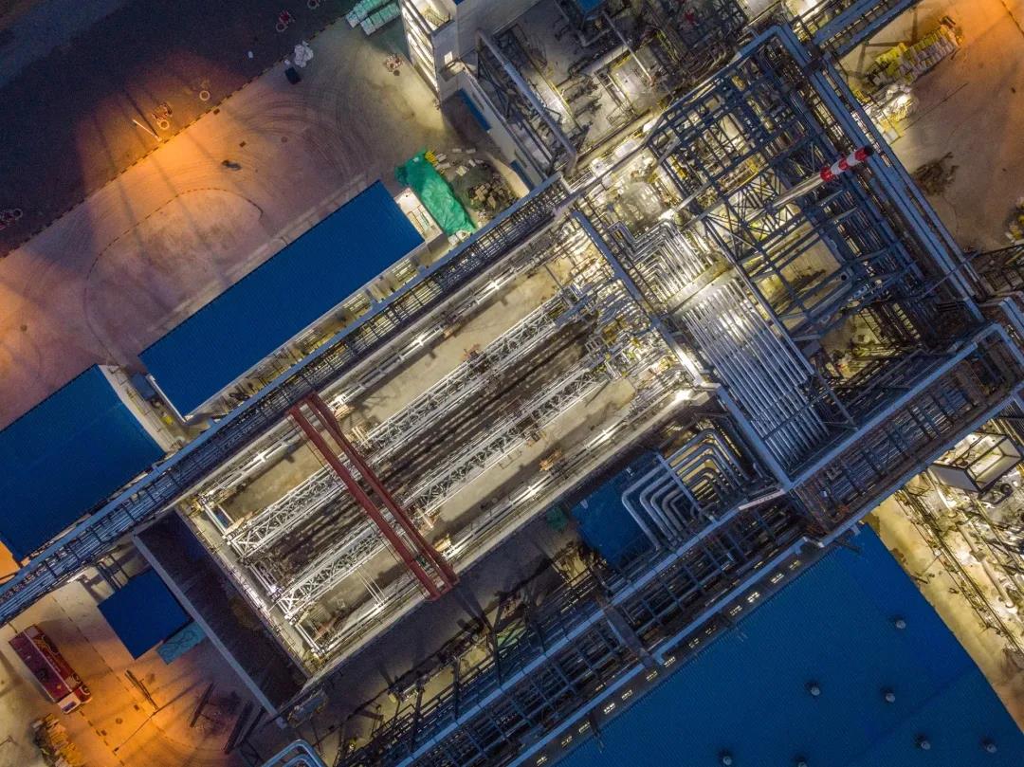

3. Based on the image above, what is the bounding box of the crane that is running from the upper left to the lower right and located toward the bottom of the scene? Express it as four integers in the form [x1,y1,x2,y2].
[290,391,459,600]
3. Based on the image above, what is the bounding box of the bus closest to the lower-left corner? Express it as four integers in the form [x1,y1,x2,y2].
[8,608,112,716]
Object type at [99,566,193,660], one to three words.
shed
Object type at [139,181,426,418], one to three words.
shed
